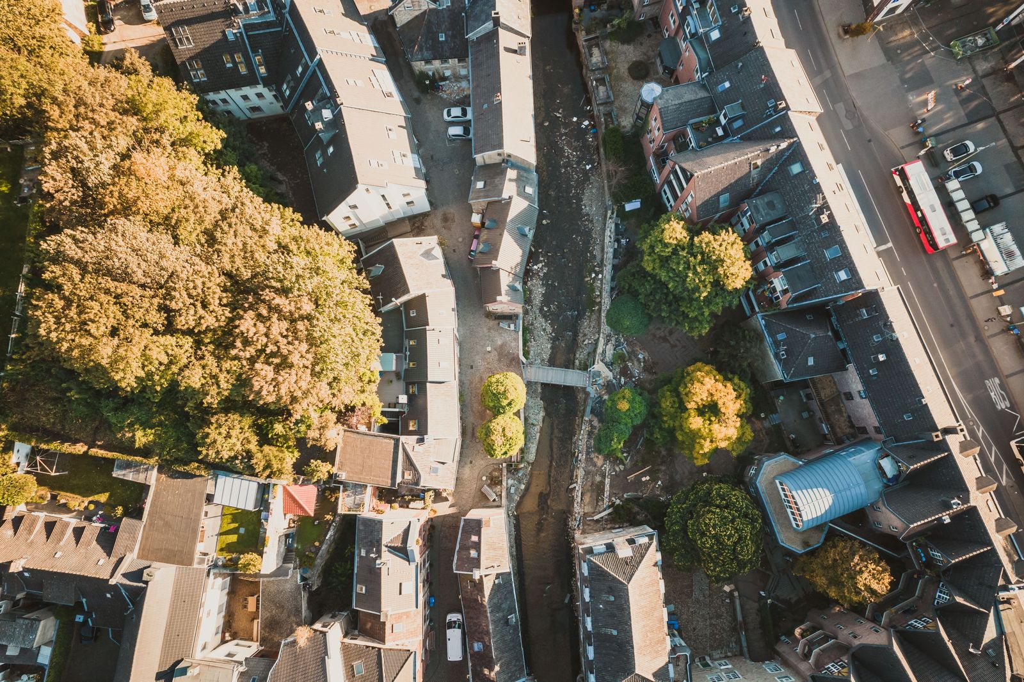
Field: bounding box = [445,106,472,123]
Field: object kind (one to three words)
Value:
car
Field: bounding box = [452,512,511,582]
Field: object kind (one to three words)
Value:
house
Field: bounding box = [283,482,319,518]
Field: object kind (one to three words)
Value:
building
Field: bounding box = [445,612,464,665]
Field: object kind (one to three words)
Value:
vehicle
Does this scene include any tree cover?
Yes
